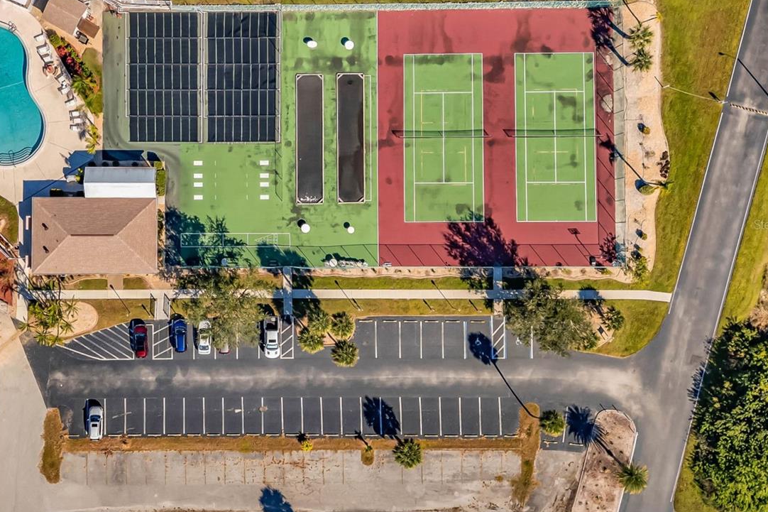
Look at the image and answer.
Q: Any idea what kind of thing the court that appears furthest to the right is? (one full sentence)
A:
I'd identify the court that appears furthest to the right as a tennis court.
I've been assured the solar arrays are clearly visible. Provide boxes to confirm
[206,11,277,142]
[128,11,200,142]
